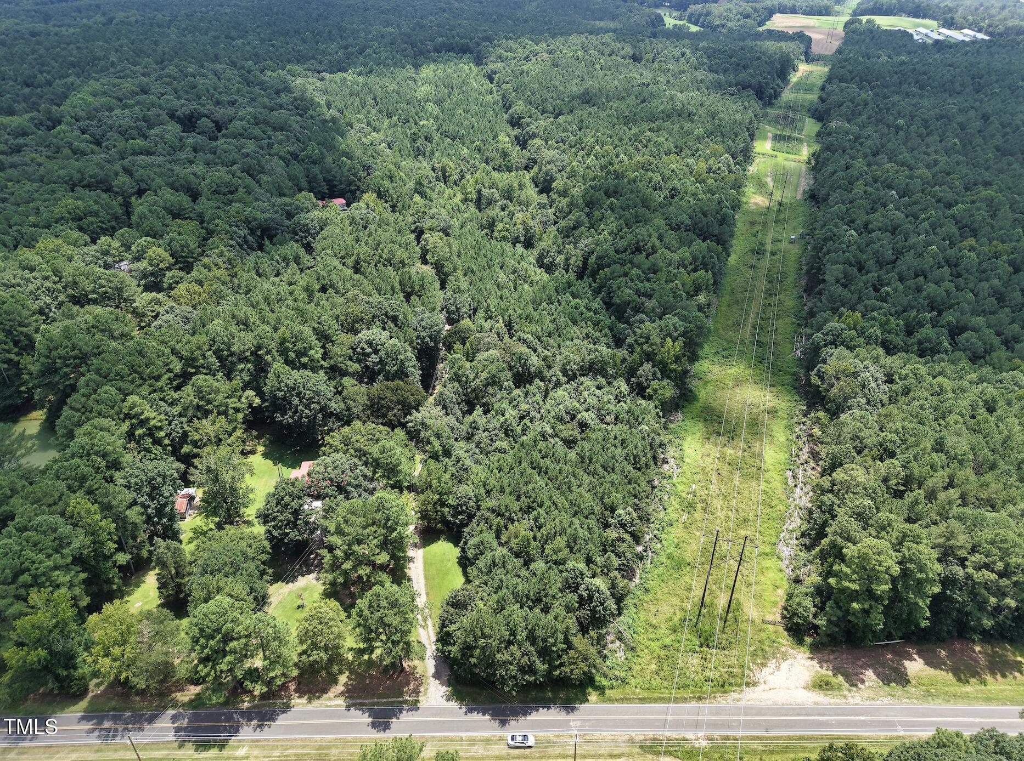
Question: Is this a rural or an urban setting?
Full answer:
It looks rural.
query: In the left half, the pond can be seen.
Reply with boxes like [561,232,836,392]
[0,425,62,480]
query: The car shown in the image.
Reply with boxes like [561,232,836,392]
[508,735,534,749]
